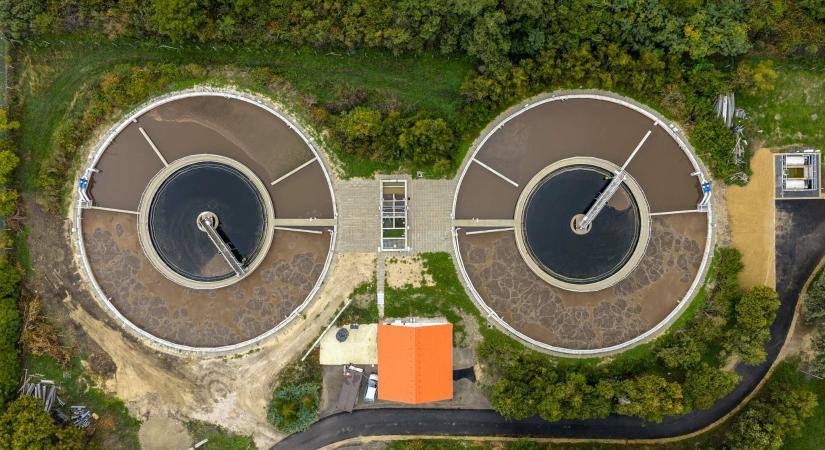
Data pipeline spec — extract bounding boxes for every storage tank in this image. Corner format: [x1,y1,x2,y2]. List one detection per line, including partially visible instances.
[72,85,343,356]
[447,89,720,359]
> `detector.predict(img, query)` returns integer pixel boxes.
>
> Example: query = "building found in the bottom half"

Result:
[377,320,454,408]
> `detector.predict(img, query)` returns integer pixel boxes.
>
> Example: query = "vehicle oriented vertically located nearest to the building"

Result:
[364,375,377,403]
